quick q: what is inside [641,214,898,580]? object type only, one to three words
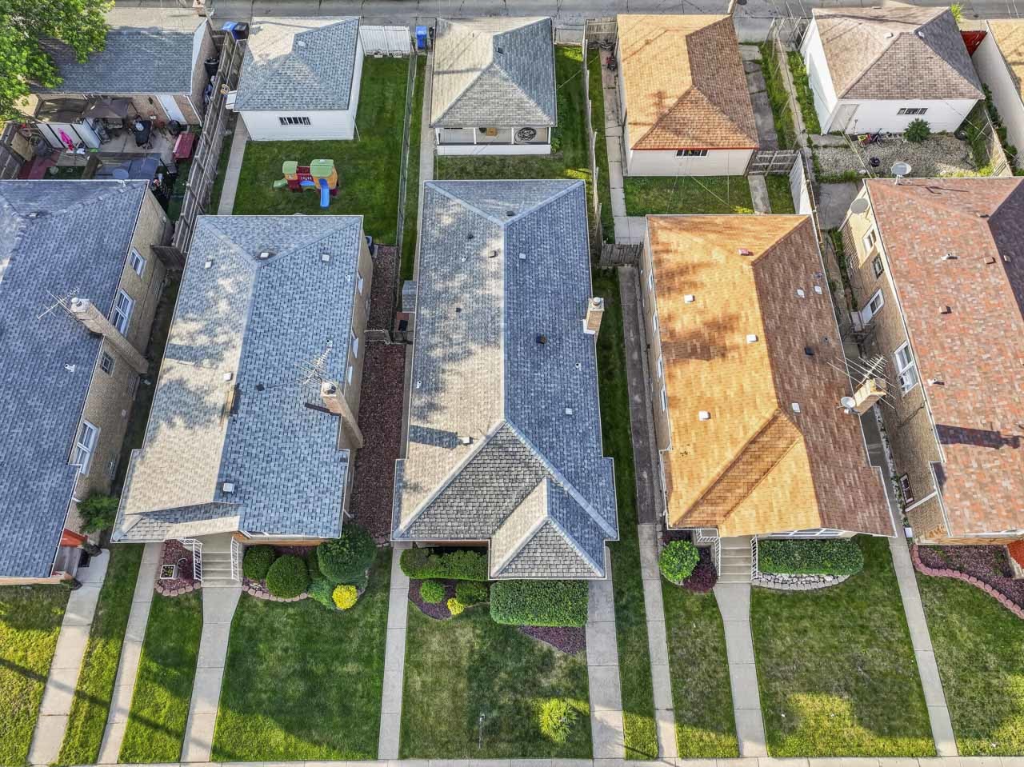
house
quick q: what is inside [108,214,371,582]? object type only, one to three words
house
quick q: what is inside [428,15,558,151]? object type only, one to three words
building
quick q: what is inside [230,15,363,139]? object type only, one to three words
building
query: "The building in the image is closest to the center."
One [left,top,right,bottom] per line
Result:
[388,178,620,586]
